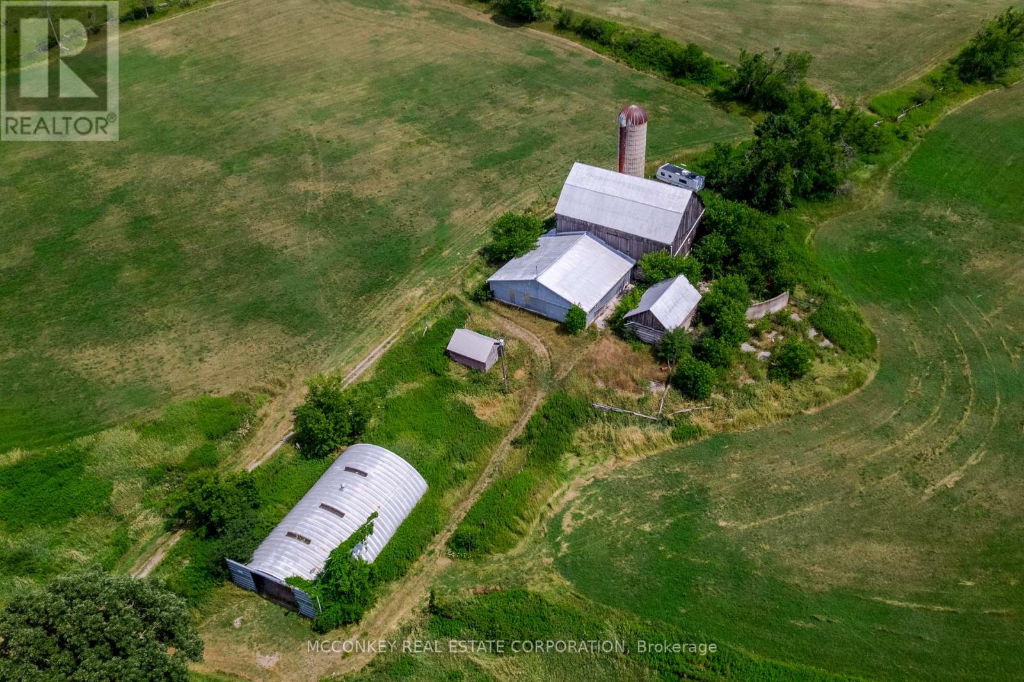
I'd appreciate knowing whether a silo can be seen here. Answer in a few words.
Yes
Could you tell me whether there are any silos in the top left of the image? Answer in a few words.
No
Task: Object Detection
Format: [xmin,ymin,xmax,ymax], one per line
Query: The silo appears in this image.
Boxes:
[616,105,648,178]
